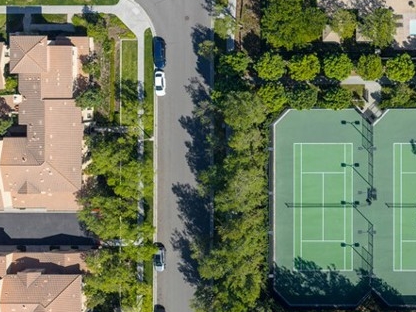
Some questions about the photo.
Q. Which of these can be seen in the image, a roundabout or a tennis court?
tennis court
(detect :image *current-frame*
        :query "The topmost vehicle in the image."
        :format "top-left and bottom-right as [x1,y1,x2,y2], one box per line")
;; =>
[151,40,165,65]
